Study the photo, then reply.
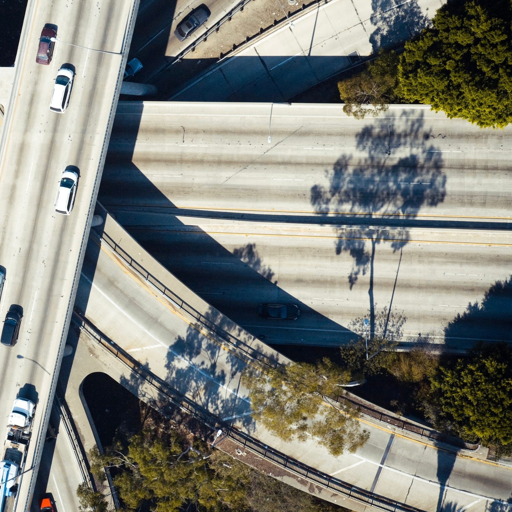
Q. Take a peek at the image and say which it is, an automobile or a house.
automobile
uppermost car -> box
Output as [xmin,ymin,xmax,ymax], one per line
[173,3,212,42]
